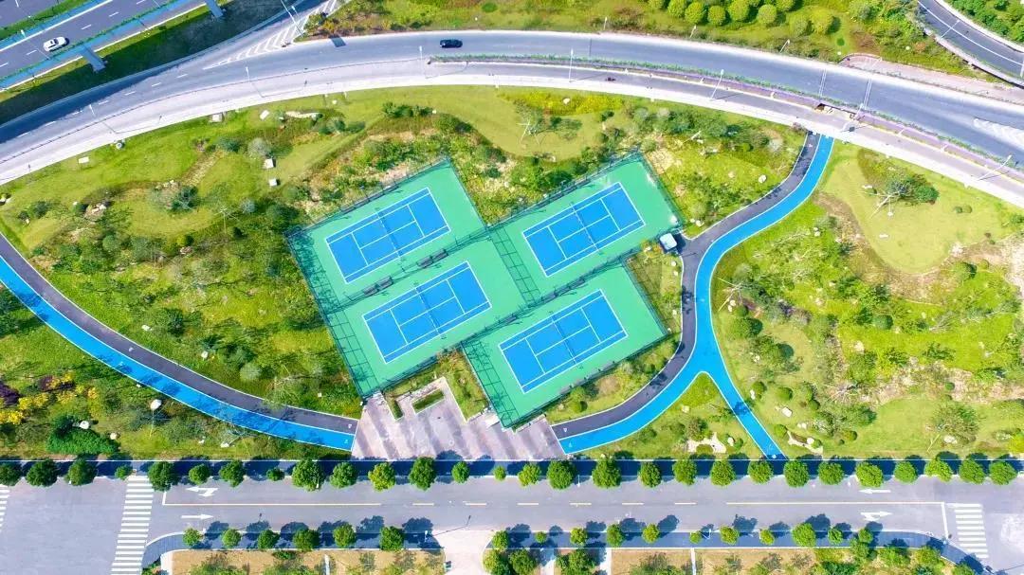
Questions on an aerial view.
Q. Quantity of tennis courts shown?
four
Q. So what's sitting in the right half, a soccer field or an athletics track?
athletics track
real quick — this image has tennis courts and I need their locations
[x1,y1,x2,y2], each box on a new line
[462,258,666,426]
[488,149,683,305]
[289,159,485,313]
[327,229,528,397]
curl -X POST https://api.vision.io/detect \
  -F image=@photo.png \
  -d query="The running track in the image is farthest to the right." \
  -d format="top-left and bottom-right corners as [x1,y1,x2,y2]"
[551,131,834,460]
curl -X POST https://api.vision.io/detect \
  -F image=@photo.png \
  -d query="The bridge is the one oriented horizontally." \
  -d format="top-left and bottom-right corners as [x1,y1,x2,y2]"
[0,0,231,85]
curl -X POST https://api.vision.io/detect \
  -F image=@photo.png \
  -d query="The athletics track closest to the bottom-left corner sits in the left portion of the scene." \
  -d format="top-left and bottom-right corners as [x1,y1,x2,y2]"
[0,234,358,451]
